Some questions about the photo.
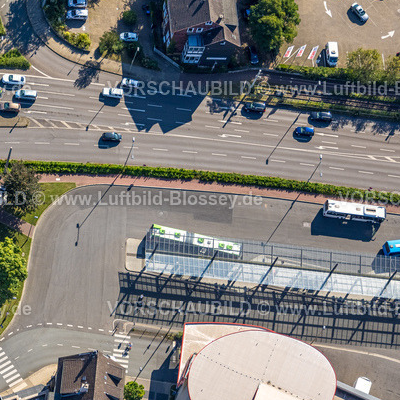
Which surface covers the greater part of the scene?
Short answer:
paved ground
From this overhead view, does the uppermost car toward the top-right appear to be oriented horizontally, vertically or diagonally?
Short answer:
diagonally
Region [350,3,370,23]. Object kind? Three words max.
car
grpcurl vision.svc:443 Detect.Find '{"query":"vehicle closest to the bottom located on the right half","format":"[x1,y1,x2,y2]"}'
[356,372,372,391]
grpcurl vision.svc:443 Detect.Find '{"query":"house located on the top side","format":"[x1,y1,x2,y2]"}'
[159,0,241,80]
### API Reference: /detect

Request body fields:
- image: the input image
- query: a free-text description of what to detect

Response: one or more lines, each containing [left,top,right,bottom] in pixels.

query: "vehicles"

[65,8,89,21]
[350,3,370,23]
[380,241,400,260]
[244,101,266,113]
[321,202,385,225]
[15,89,37,101]
[2,74,25,86]
[325,37,340,66]
[120,78,138,89]
[294,126,314,137]
[356,372,372,391]
[68,0,87,8]
[120,31,139,42]
[309,110,332,122]
[102,87,123,99]
[101,131,122,142]
[0,102,21,113]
